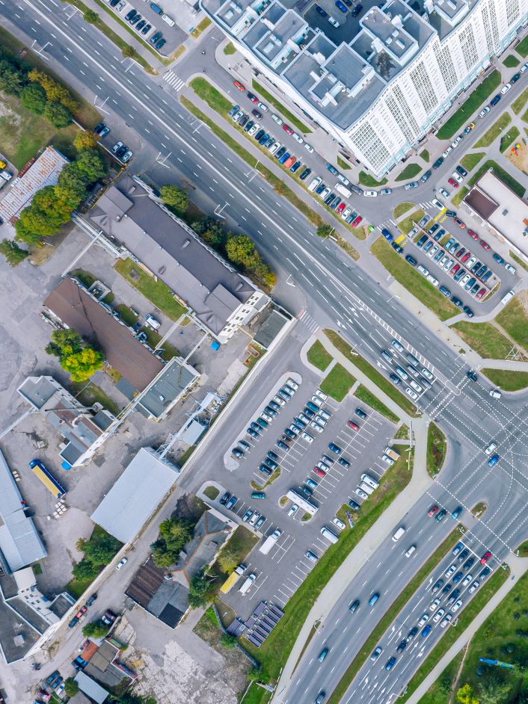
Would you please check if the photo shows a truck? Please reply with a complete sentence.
Yes, the picture does show a truck.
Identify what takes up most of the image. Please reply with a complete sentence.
For the most part, this view shows paved ground.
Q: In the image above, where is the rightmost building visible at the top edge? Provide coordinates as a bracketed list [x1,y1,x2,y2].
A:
[198,0,528,175]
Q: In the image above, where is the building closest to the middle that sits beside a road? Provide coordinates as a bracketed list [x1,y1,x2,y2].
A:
[253,309,291,348]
